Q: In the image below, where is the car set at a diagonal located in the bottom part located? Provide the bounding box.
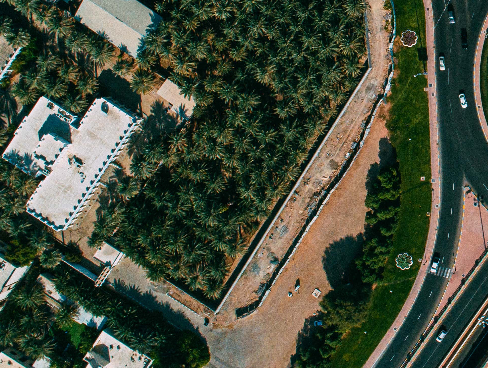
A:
[435,329,449,345]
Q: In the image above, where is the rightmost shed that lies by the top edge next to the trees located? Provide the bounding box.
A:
[77,0,169,56]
